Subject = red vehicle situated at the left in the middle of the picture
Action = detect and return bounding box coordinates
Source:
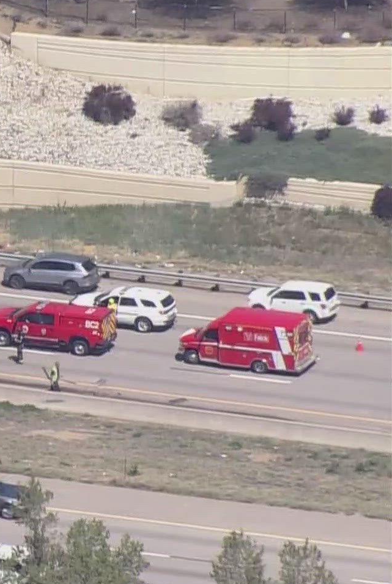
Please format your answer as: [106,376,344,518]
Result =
[0,299,116,356]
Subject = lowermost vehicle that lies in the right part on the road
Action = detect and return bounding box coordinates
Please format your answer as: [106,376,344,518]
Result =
[171,304,314,374]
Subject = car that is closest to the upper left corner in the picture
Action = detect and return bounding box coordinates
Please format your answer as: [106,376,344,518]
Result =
[0,249,102,294]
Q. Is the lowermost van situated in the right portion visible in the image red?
Yes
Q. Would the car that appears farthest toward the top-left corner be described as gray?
Yes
